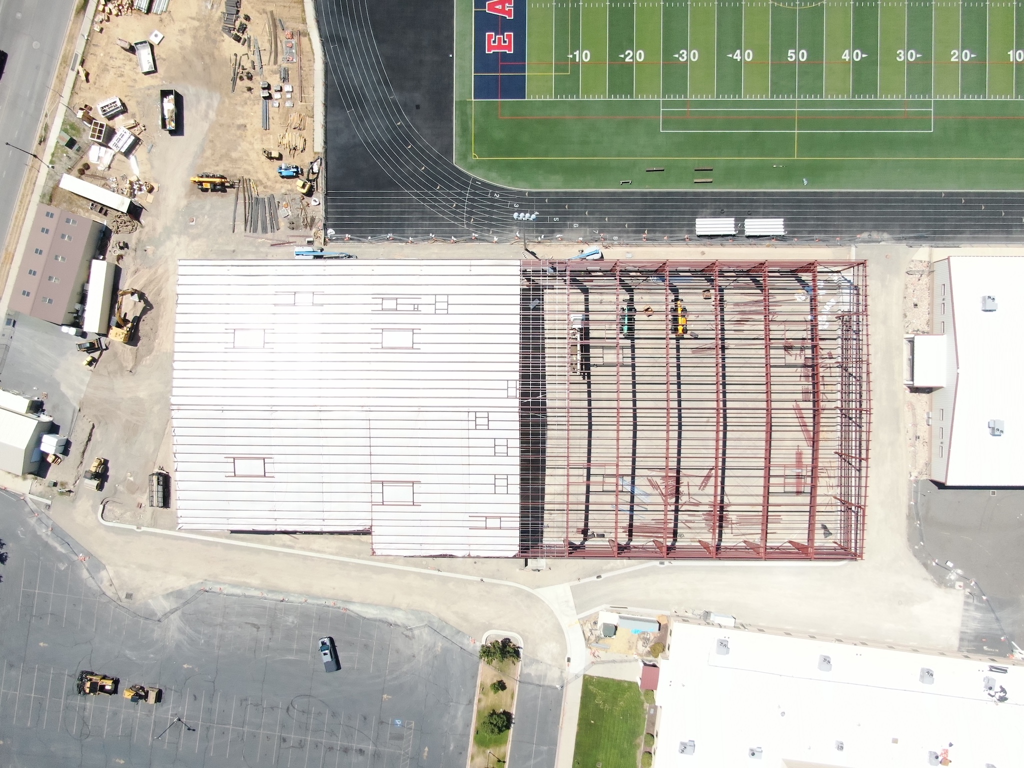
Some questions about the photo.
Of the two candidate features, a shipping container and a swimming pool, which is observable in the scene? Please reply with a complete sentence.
The image shows a shipping container.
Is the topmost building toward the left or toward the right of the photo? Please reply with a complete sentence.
The topmost building appears in the left half of the scene.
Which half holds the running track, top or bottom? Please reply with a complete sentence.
You can find the running track in the top half.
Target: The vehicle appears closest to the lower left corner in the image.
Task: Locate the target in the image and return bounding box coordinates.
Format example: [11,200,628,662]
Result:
[125,685,162,703]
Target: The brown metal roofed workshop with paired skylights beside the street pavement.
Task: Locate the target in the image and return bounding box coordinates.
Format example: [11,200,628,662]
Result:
[7,203,105,326]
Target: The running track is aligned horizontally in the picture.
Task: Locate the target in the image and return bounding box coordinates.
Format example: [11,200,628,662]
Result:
[315,0,1024,246]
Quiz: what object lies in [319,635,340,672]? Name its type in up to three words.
truck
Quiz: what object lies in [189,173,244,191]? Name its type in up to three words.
work vehicle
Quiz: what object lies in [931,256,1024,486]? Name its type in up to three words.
building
